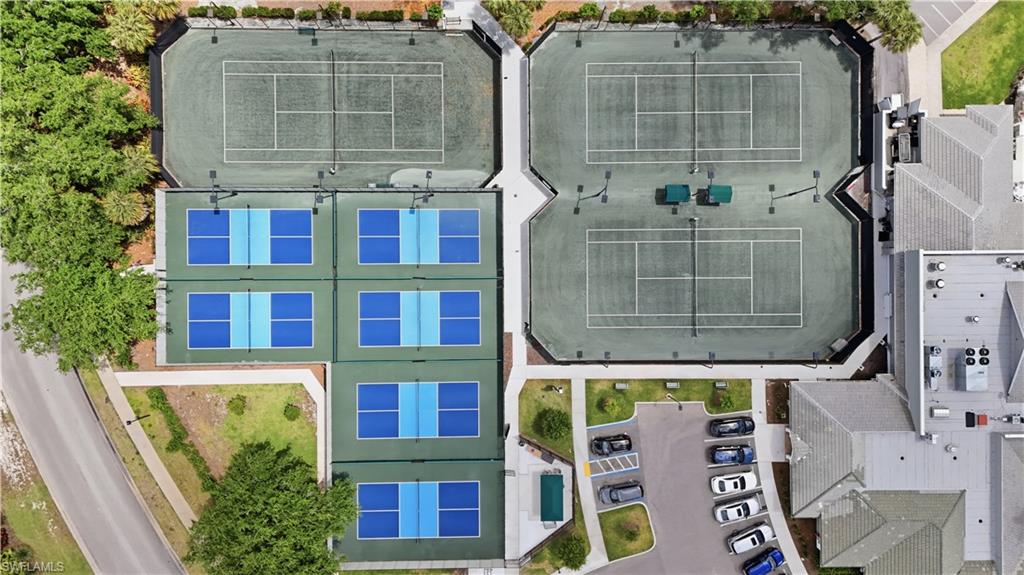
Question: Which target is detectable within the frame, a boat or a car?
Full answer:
Visible in the photo is a car.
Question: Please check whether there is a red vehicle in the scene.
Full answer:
No, the frame has no red vehicle in it.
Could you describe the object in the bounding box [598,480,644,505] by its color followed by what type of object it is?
gray car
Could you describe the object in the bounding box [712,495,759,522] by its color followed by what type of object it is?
white car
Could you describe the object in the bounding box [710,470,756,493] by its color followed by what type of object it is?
white car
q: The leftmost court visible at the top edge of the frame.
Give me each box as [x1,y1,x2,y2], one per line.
[162,28,501,187]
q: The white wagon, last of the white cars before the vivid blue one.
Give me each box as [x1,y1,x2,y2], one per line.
[727,523,773,553]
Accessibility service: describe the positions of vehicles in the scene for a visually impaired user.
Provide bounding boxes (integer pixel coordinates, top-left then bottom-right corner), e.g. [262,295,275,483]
[588,432,634,457]
[712,495,759,522]
[710,470,756,493]
[598,480,644,505]
[708,415,753,437]
[727,523,773,553]
[741,545,787,575]
[708,443,753,465]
